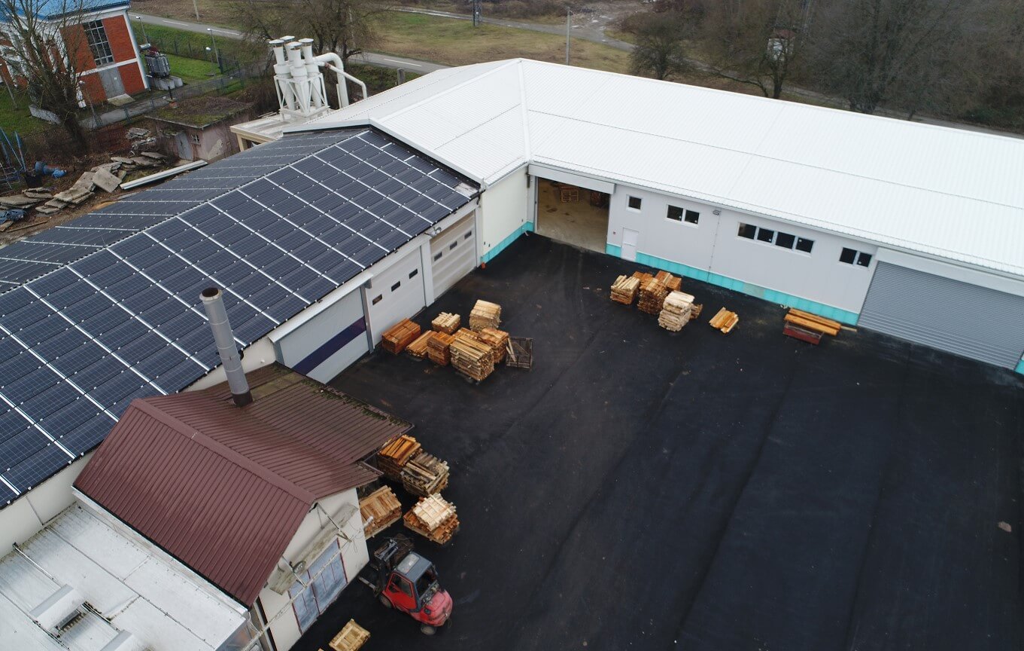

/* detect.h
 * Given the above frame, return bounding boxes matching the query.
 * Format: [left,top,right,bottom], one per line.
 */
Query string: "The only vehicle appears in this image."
[358,535,459,632]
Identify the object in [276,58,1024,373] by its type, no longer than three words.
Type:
building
